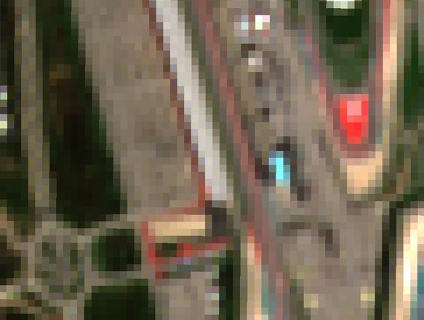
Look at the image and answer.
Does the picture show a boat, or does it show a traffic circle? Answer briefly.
traffic circle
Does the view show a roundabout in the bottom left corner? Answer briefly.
Yes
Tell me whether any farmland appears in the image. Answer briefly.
Yes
